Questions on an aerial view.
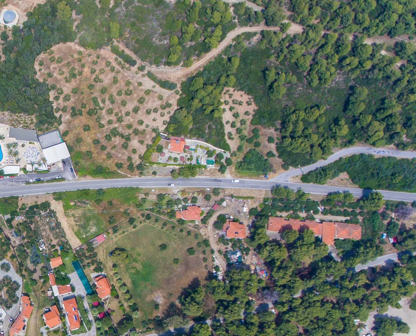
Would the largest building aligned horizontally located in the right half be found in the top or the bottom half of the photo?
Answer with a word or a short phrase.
bottom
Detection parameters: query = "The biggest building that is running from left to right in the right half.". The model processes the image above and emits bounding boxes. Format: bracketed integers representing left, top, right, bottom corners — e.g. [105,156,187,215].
[266,217,362,245]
